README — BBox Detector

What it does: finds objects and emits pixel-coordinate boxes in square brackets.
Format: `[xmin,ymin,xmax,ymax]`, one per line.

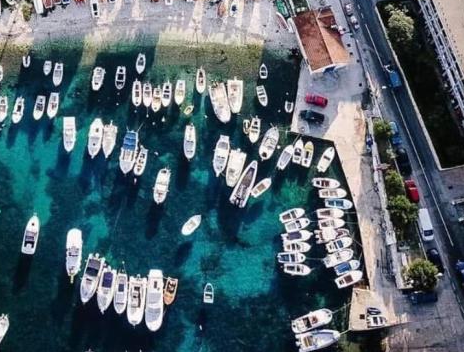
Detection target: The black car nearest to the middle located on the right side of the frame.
[301,108,326,123]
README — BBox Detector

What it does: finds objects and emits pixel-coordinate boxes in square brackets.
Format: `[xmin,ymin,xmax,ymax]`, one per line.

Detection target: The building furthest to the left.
[291,7,349,77]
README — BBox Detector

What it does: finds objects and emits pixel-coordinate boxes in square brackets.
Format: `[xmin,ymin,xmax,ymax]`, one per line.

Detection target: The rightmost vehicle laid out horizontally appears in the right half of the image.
[409,288,439,303]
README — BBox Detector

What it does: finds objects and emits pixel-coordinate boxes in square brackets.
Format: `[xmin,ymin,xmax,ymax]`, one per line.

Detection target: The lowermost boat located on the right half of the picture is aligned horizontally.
[292,330,339,352]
